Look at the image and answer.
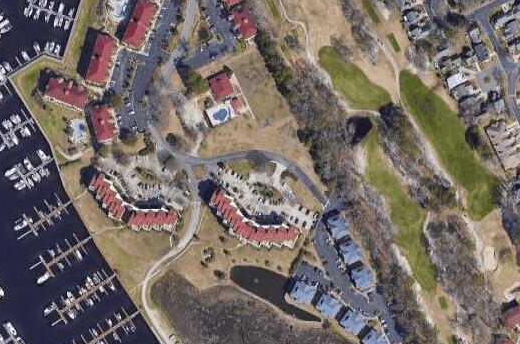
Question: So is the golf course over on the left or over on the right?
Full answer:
It is on the right.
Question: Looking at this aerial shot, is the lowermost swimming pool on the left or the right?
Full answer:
The lowermost swimming pool sits on the left side.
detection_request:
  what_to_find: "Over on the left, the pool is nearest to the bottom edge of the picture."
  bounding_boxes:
[68,118,90,146]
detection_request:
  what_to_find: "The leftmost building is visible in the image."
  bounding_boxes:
[43,78,92,112]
